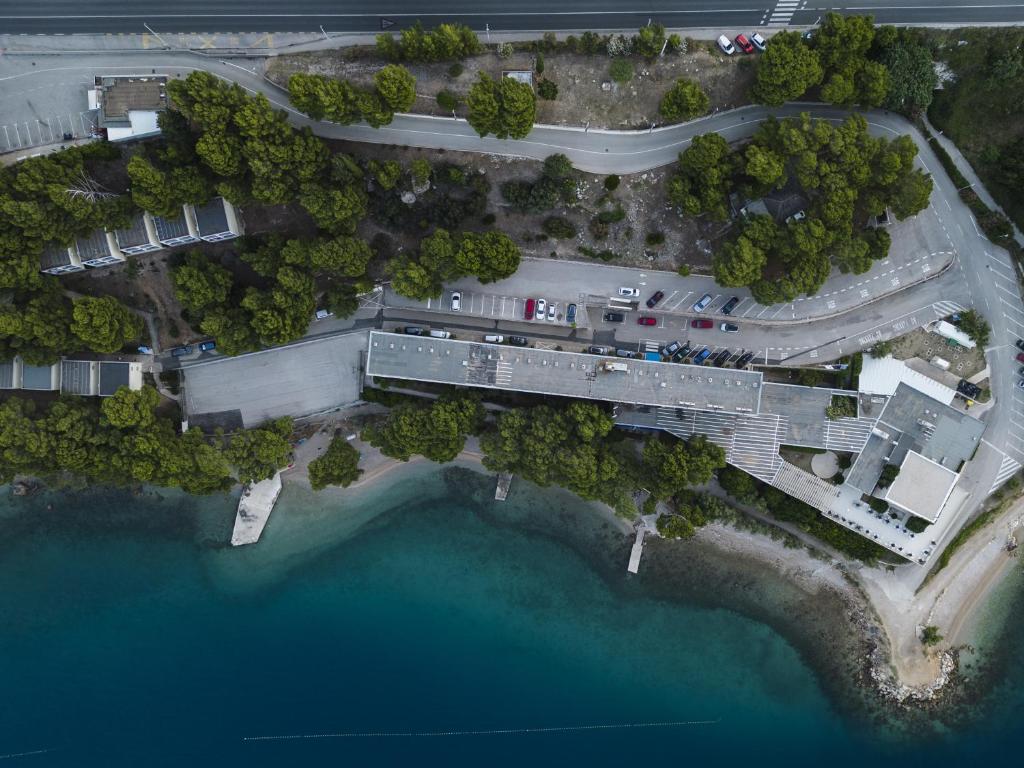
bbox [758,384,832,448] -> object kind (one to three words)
building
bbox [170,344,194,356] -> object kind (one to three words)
vehicle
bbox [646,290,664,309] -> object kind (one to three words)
car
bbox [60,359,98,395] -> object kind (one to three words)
house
